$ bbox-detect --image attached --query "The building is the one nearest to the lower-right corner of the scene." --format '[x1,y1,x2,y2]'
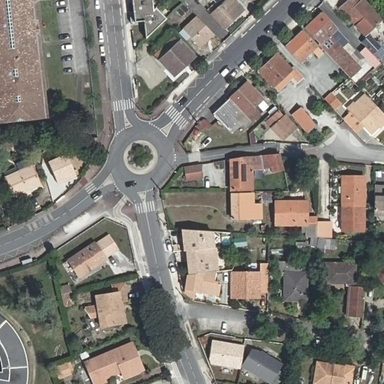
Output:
[314,362,356,384]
